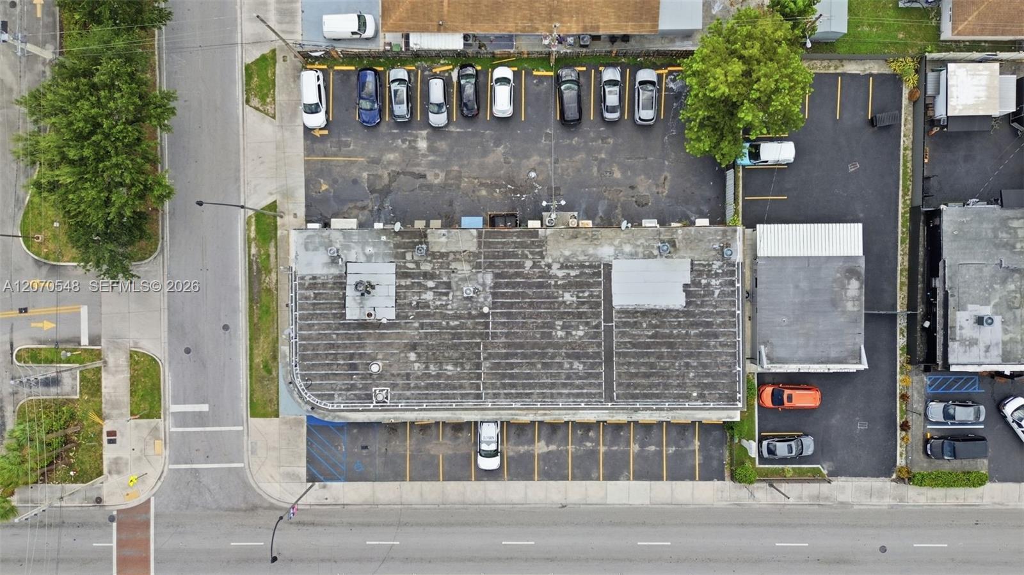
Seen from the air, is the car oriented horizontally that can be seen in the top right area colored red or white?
white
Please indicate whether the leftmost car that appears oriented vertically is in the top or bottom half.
top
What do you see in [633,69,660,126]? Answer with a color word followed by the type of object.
gray car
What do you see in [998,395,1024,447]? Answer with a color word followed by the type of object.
white car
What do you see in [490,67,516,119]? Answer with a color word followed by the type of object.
white car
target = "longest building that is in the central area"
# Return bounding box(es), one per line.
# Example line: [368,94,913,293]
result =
[282,217,746,421]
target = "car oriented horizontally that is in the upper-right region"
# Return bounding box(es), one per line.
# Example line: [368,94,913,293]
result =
[735,140,795,166]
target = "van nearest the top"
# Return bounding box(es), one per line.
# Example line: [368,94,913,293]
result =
[322,11,377,42]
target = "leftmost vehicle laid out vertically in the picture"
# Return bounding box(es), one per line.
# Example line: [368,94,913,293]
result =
[300,70,328,130]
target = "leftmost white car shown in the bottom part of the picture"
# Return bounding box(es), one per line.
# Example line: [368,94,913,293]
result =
[475,421,502,470]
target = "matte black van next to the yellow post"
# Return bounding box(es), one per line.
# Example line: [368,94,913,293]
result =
[924,434,990,462]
